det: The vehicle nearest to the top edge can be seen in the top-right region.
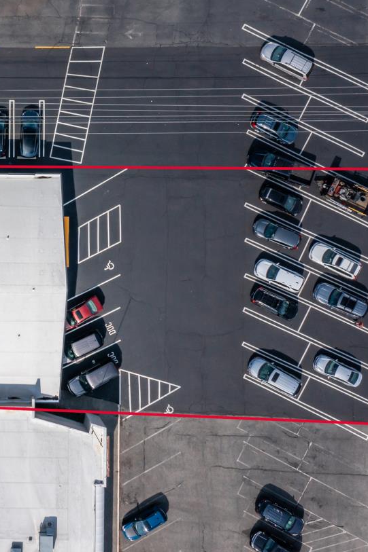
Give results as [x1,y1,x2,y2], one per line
[259,42,315,79]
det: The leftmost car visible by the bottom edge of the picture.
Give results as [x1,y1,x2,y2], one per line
[121,504,170,538]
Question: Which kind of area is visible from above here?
parking lot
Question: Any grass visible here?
No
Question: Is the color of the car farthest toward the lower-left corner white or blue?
blue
